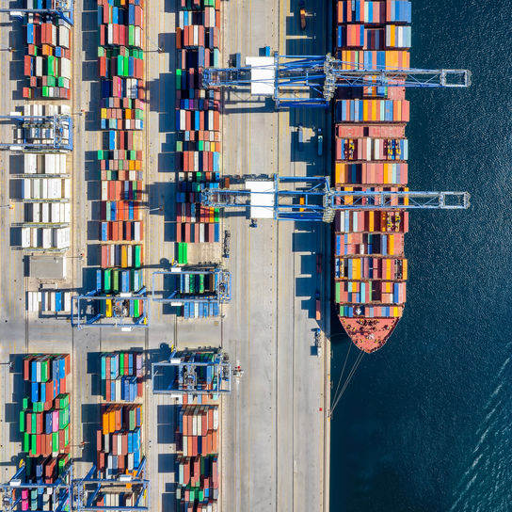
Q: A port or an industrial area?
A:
port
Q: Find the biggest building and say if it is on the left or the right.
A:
left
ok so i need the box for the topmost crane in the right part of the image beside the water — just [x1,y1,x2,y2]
[202,54,473,112]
